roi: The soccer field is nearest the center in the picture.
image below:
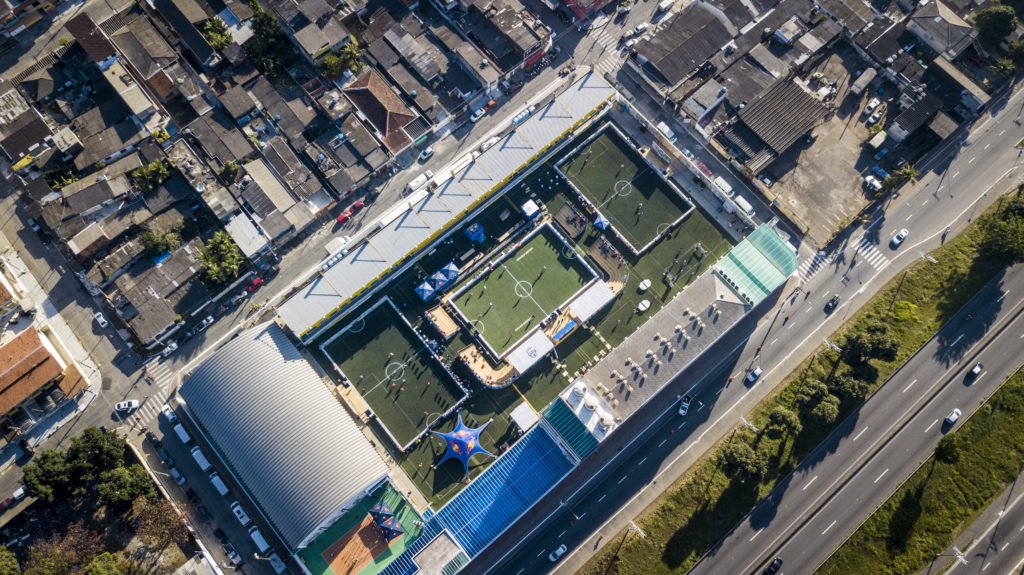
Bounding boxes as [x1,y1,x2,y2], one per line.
[448,219,602,360]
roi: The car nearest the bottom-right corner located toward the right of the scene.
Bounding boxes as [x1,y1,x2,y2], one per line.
[943,405,964,425]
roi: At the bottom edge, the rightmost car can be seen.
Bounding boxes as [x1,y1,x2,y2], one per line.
[763,555,785,575]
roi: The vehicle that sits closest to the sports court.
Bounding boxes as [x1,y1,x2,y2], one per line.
[267,549,291,575]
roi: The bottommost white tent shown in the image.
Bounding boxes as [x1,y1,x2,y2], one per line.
[510,401,539,433]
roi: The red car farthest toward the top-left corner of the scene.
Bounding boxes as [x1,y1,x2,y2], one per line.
[245,276,266,293]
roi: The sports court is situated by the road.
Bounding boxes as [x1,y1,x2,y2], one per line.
[292,478,424,575]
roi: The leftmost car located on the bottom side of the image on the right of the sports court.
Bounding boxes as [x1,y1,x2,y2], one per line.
[547,541,569,563]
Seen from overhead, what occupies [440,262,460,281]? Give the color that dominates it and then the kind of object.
blue gazebo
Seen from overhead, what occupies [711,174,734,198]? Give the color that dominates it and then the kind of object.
white vehicle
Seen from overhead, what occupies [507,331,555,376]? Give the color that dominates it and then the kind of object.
white tent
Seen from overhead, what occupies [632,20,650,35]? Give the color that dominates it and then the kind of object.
white car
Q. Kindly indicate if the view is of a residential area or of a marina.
residential area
